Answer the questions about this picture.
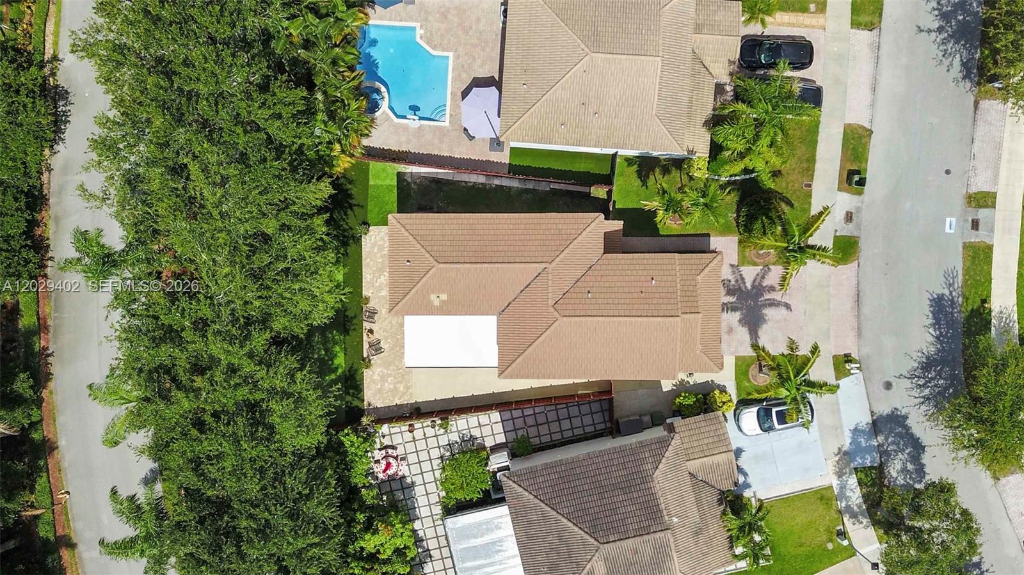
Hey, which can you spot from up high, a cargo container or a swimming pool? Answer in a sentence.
It is a swimming pool that can be seen here.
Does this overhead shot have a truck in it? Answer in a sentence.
No, the frame has no truck in it.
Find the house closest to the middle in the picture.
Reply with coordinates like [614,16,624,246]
[386,211,724,381]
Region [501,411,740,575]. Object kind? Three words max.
house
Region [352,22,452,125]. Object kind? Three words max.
swimming pool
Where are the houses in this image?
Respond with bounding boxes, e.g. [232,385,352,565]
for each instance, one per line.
[501,411,740,575]
[499,0,740,160]
[386,211,724,381]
